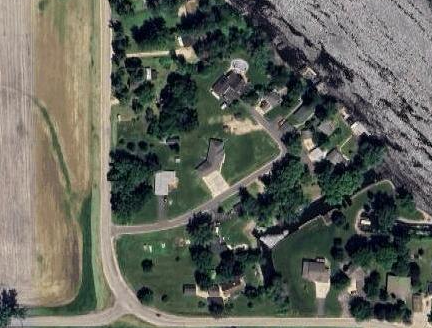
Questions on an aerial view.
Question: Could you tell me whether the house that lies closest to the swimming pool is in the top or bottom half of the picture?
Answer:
top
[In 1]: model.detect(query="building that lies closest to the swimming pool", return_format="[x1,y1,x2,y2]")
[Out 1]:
[212,65,241,102]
